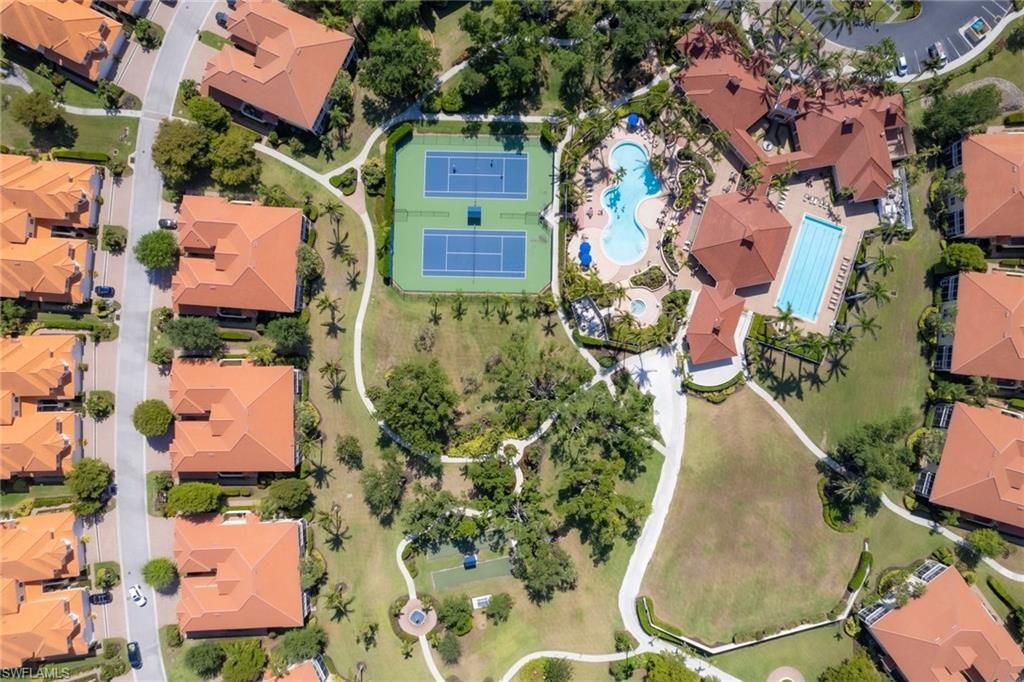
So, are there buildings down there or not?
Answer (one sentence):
Yes, there's a building here.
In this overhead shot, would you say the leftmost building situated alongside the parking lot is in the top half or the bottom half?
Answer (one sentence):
The leftmost building situated alongside the parking lot is in the top half of the image.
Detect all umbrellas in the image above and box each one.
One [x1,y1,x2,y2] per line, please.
[580,252,592,264]
[580,241,591,253]
[627,113,639,125]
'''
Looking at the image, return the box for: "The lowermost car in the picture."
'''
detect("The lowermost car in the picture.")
[127,644,139,667]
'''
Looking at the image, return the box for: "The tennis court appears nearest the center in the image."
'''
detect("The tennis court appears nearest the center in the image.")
[422,229,527,279]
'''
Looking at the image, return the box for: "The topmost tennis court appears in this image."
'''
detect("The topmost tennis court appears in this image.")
[424,151,528,200]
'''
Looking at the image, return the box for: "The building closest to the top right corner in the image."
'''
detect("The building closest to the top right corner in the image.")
[946,125,1024,248]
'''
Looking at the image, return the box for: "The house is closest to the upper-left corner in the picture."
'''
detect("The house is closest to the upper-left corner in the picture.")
[0,0,142,84]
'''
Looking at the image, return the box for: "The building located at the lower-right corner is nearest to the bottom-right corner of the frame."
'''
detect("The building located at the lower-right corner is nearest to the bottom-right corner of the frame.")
[860,562,1024,682]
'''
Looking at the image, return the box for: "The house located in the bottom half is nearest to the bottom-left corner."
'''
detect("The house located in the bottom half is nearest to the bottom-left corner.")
[0,511,100,668]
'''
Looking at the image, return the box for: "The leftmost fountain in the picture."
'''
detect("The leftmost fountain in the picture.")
[408,609,427,627]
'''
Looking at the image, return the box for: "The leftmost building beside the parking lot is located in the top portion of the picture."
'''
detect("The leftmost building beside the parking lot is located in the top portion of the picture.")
[675,24,917,364]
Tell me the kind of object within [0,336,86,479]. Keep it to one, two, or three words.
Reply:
house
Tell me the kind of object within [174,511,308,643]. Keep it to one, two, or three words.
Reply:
house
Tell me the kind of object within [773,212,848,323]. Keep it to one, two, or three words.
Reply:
swimming pool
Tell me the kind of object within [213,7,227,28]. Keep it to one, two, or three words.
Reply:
car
